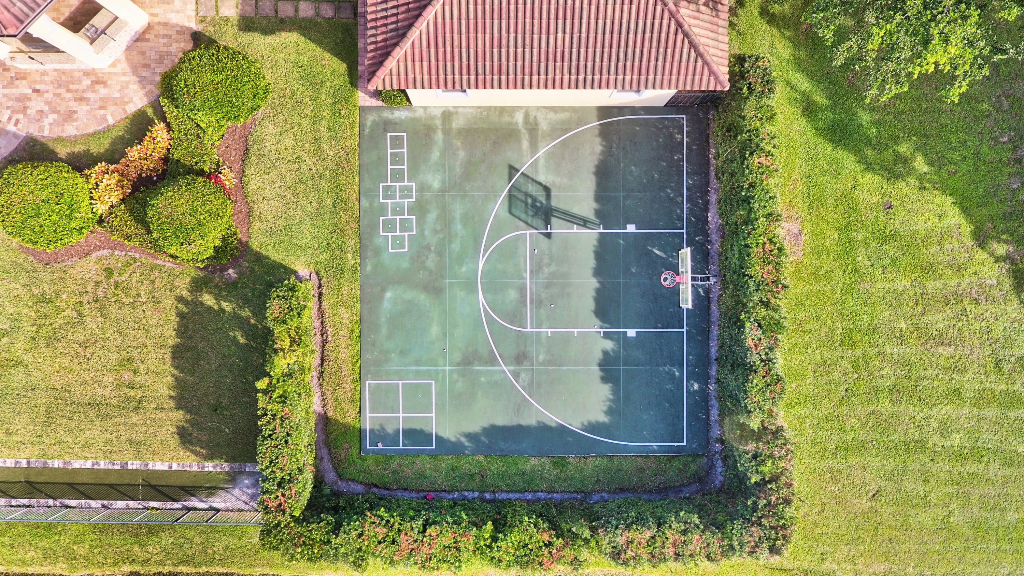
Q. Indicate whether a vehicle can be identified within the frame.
No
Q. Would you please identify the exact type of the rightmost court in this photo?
basketball court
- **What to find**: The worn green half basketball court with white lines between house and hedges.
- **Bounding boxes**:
[359,106,709,455]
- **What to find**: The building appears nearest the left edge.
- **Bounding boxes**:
[0,0,147,68]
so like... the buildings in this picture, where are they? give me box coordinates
[363,0,736,106]
[0,0,147,68]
